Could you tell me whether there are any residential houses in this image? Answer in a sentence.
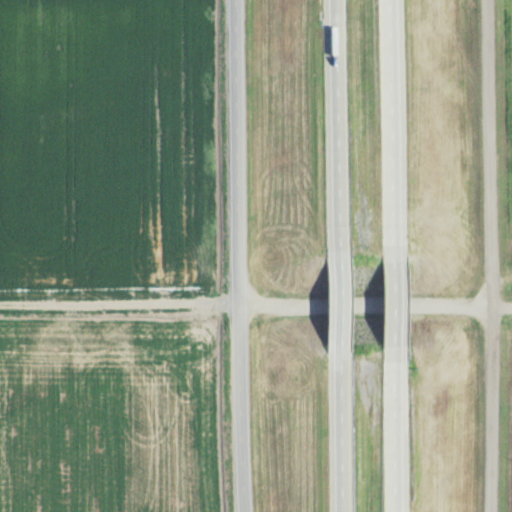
No, I find no residential house anywhere in the image.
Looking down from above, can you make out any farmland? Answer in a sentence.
Yes, farmland shows up in the scene.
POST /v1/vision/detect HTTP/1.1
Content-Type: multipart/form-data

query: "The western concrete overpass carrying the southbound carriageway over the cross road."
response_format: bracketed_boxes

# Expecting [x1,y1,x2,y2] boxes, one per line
[326,256,353,359]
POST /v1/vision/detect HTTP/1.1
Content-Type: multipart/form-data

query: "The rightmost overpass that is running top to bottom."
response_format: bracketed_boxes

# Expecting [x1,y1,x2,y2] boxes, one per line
[382,256,410,359]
